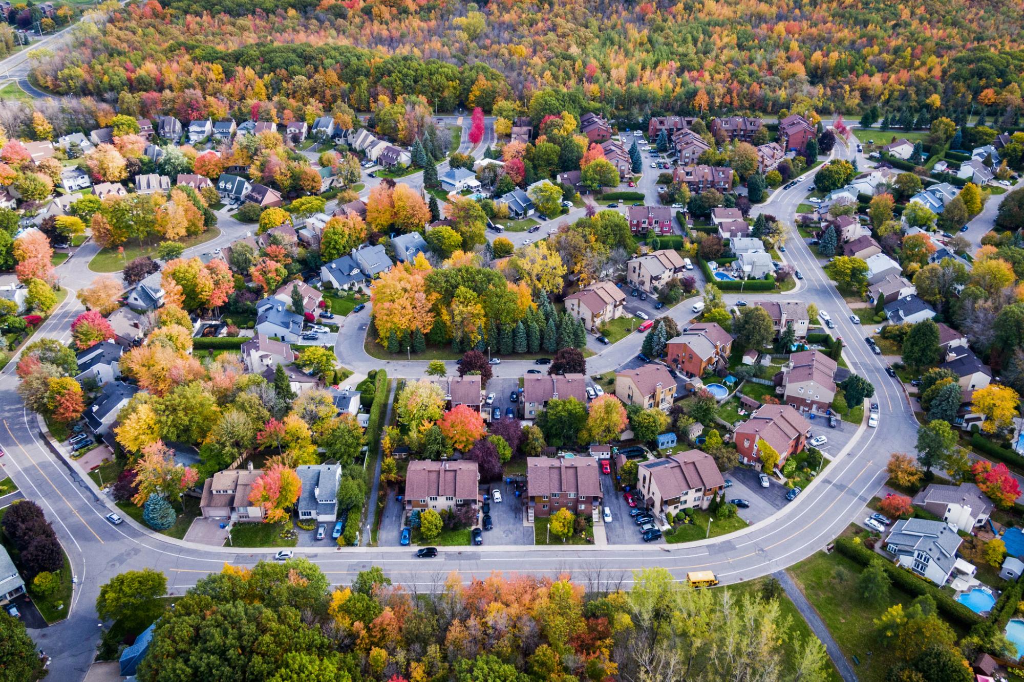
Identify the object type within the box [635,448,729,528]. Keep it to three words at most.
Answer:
house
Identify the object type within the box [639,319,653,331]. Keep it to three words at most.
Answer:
vehicle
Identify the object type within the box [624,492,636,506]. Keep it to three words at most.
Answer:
vehicle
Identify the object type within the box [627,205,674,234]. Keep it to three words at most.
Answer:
house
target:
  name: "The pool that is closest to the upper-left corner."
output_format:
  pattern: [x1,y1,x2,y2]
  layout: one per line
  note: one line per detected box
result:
[195,320,233,338]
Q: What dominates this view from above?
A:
trees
